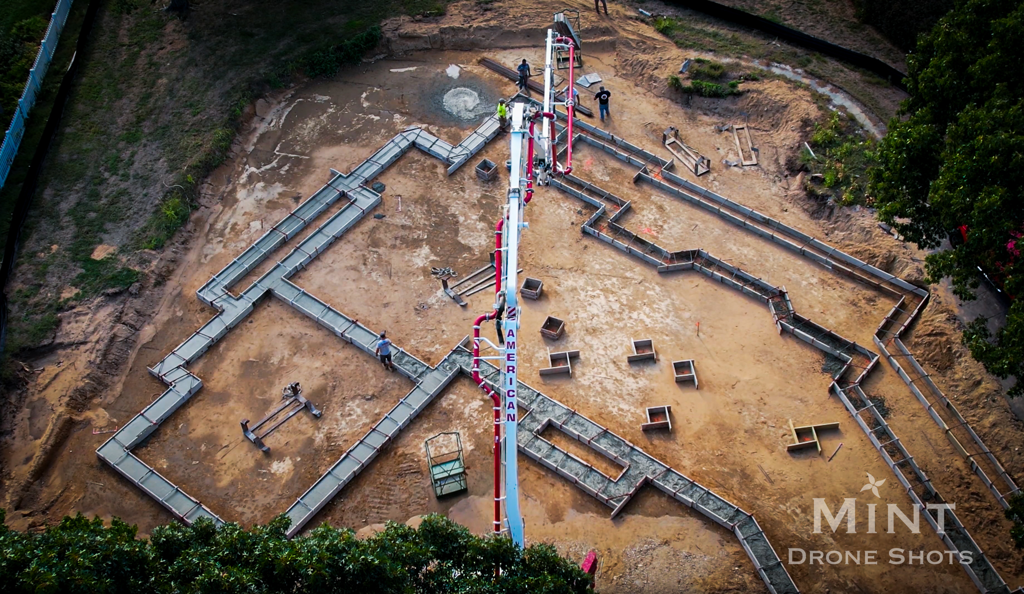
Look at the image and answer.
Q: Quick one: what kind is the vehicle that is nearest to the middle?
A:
truck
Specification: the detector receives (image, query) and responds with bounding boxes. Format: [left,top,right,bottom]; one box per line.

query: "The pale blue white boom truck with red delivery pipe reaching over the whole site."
[472,30,600,591]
